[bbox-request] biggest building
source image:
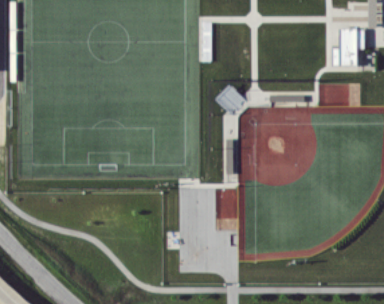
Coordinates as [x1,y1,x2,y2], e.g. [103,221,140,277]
[340,28,359,66]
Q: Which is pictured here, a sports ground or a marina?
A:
sports ground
